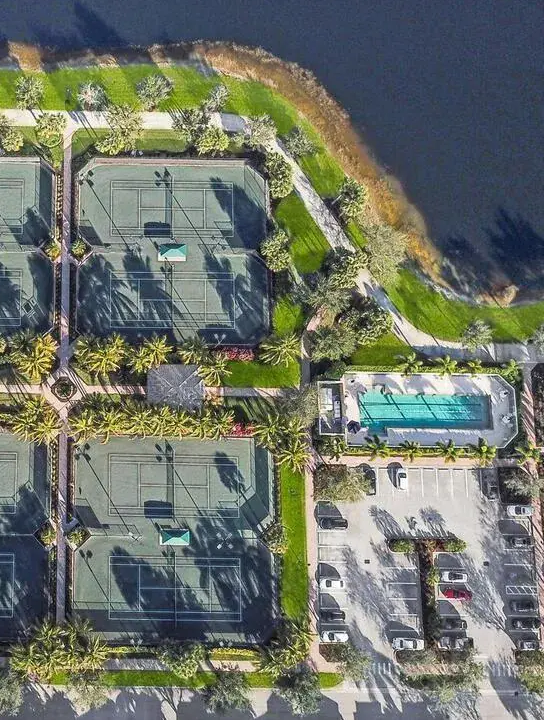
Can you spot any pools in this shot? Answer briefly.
Yes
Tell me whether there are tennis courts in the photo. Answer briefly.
Yes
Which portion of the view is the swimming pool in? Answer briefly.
right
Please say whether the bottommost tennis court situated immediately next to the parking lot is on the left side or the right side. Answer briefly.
left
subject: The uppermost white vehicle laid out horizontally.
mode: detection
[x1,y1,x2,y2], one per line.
[505,505,533,517]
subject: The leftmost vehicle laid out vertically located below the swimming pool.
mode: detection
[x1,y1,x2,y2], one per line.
[364,469,377,496]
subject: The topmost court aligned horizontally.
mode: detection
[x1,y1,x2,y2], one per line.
[78,159,268,250]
